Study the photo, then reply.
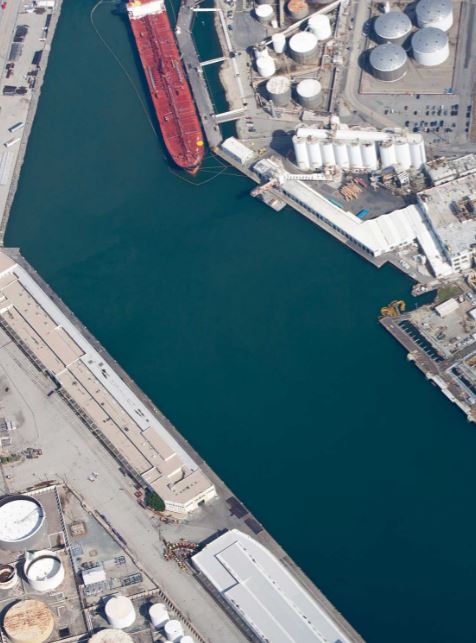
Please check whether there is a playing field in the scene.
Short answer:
No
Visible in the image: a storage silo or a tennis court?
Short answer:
storage silo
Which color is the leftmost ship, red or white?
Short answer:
red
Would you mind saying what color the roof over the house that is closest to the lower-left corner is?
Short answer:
white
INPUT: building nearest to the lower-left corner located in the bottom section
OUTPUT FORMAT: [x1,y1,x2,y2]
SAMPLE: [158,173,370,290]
[82,567,108,588]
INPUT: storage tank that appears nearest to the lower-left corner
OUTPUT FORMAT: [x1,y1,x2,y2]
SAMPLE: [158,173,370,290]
[4,598,57,643]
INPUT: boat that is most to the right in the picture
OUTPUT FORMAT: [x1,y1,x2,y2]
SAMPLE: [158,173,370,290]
[411,284,438,298]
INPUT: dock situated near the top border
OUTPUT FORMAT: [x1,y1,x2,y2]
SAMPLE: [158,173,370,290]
[176,0,221,147]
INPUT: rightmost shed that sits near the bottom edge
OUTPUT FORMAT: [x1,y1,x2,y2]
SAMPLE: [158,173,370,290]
[188,529,350,643]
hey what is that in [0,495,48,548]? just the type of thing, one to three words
storage tank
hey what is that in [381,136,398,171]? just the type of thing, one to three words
silo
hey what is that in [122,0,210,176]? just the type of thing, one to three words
ship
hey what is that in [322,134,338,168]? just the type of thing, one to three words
silo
